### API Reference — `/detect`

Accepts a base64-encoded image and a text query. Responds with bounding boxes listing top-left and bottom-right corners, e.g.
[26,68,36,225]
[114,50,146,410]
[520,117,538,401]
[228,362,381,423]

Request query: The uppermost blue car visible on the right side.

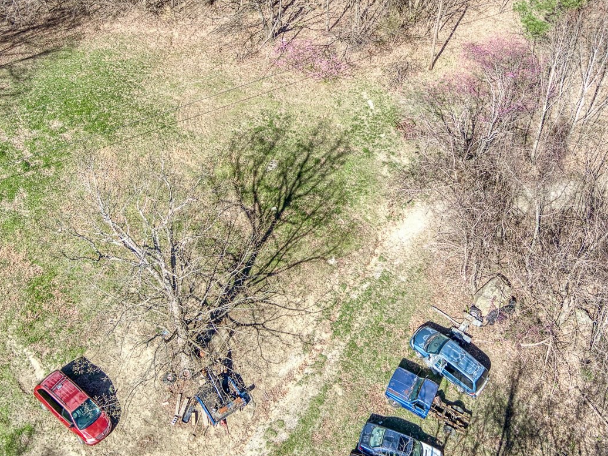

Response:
[411,323,492,395]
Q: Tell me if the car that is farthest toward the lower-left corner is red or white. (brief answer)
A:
red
